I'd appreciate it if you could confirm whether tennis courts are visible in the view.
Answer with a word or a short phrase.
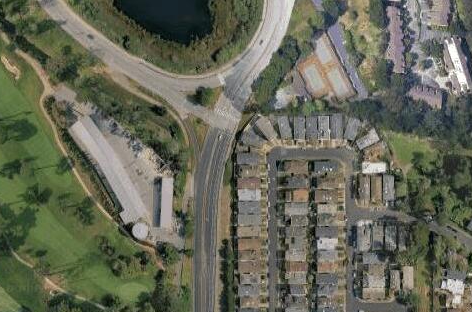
Yes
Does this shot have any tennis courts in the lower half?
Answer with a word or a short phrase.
No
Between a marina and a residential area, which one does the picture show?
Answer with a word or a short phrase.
residential area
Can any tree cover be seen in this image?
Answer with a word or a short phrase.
Yes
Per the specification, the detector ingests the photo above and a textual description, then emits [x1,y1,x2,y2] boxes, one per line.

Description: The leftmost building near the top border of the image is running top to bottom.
[385,5,405,72]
